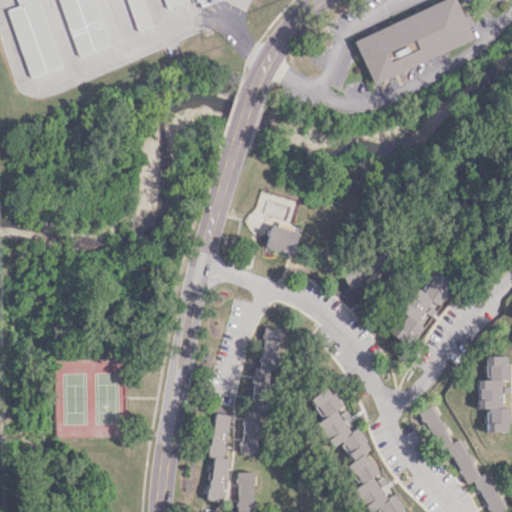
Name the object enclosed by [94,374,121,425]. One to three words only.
tennis court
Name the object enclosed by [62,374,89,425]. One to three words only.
tennis court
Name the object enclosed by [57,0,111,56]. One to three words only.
building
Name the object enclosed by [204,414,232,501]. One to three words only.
building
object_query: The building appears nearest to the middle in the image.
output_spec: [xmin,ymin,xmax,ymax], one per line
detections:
[268,224,302,256]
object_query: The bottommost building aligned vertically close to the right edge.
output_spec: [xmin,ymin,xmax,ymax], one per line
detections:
[477,356,512,434]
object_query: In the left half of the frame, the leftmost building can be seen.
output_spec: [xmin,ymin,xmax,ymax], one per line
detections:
[8,0,64,77]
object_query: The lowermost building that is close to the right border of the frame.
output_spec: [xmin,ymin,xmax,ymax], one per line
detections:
[422,408,509,512]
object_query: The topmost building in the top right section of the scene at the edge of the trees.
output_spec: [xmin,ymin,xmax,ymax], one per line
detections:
[356,0,478,88]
